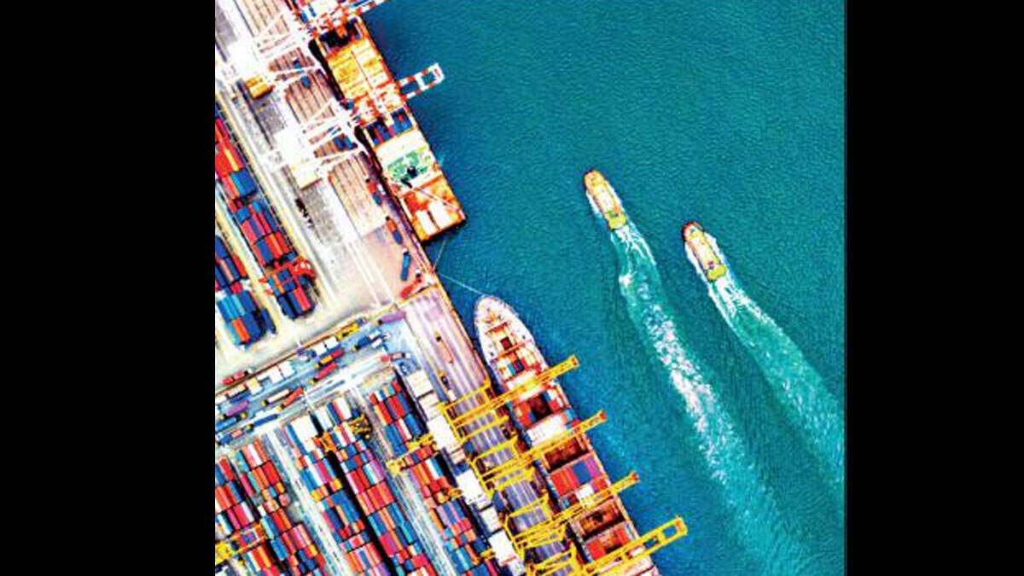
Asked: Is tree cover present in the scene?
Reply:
No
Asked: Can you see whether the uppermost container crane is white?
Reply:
Yes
